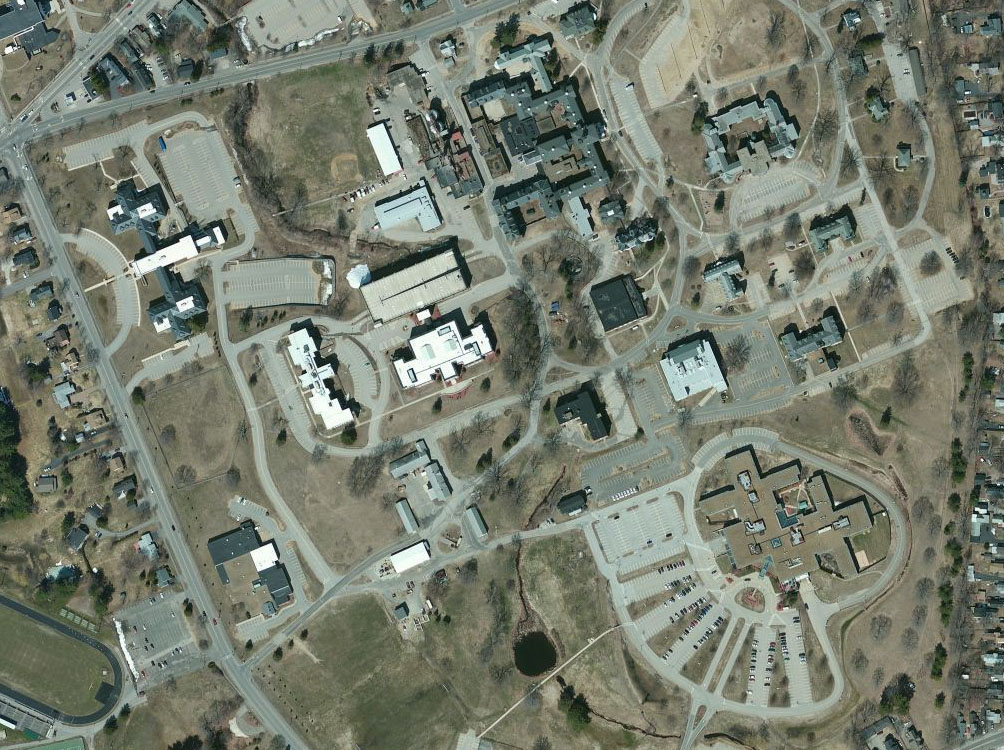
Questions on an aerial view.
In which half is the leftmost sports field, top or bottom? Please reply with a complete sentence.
The bottom half of the photo is where the leftmost sports field is.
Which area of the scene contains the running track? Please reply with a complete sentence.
The running track appears toward the bottom left of the photo.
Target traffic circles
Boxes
[730,575,777,622]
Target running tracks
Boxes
[0,592,123,725]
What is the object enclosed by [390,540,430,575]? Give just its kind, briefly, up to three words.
shed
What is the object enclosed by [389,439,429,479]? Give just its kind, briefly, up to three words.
barn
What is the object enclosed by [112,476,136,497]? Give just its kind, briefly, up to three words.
house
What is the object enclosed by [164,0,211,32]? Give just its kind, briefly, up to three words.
building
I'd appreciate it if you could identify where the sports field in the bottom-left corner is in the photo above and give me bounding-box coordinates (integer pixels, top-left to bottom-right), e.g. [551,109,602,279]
[0,605,111,713]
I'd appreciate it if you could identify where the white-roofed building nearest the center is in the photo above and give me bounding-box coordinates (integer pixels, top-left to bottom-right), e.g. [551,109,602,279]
[394,321,492,388]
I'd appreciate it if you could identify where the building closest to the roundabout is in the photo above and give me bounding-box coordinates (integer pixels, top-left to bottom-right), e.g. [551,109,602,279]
[699,450,873,584]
